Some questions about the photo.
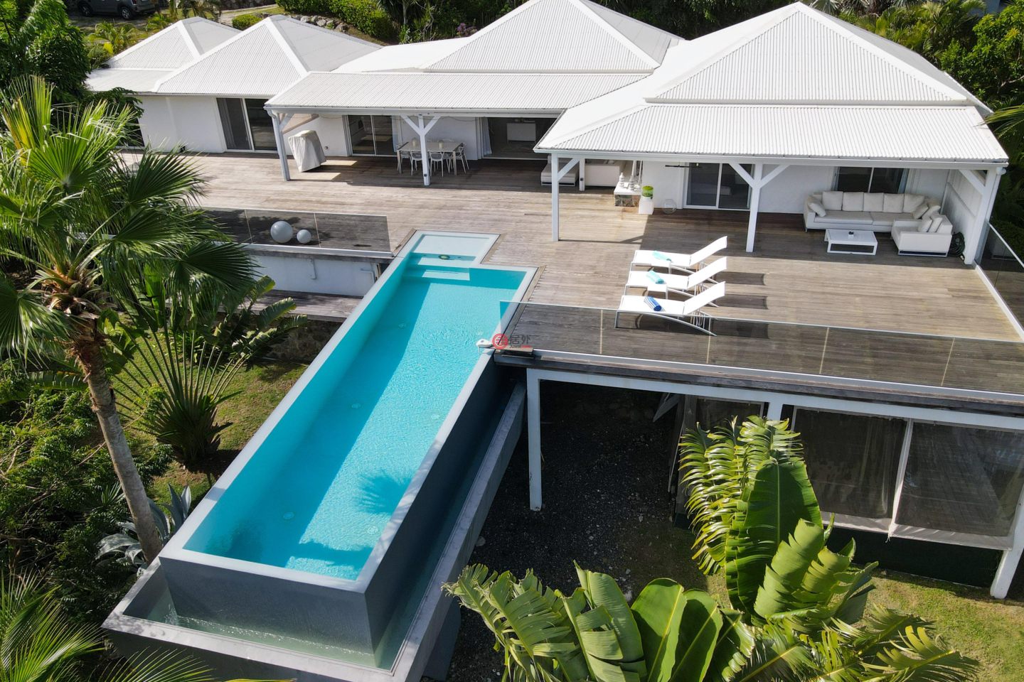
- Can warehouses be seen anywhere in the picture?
No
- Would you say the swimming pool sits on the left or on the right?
left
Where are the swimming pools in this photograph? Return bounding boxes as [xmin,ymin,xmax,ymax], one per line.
[102,231,538,682]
